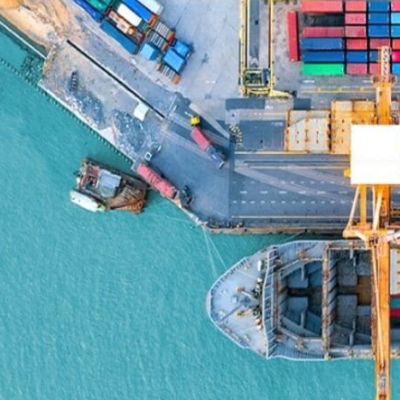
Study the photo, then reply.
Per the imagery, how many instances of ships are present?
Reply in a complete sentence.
The count of ships comes to 2.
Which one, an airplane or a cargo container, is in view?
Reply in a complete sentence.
I can see a cargo container in this picture.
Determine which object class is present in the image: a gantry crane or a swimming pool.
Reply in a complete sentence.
Of the two, only a gantry crane appears.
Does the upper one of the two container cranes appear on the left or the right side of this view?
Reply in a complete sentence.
You can find the upper one of the two container cranes on the right side of the picture.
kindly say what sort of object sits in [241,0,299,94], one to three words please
container crane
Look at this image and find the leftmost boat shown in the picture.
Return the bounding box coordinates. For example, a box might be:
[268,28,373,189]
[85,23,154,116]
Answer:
[68,189,104,210]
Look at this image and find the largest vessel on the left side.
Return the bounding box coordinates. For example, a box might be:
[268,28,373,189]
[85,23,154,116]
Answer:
[72,156,149,215]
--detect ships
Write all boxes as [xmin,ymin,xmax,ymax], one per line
[72,156,149,215]
[205,238,372,362]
